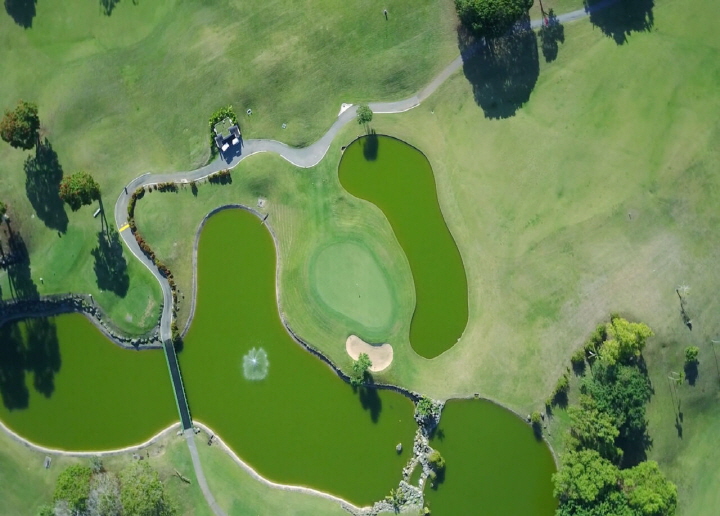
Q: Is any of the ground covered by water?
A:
Yes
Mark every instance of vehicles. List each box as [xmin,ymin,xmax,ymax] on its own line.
[221,143,231,152]
[231,138,240,146]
